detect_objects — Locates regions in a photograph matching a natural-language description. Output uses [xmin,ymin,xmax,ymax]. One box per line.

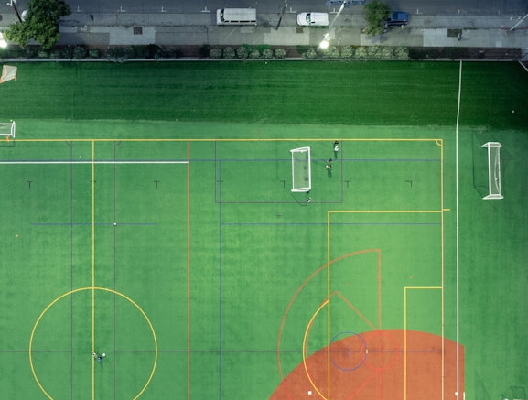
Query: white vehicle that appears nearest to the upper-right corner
[296,11,328,28]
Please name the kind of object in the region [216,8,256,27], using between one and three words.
vehicle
